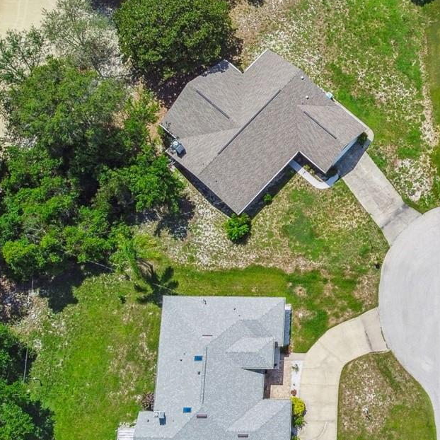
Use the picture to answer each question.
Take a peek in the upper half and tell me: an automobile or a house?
house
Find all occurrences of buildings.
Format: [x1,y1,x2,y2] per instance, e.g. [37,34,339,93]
[135,296,292,440]
[159,50,369,216]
